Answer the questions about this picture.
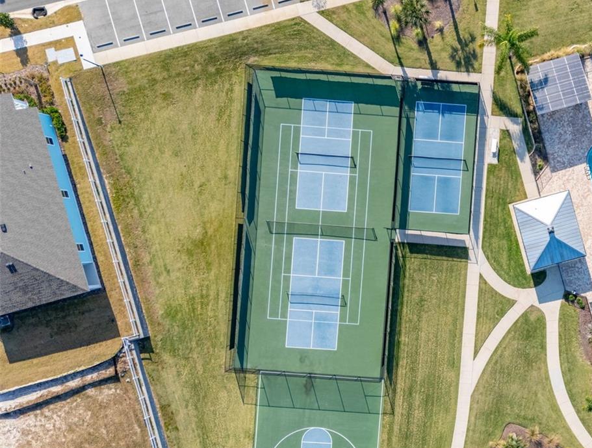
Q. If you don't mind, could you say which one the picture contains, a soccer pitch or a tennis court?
tennis court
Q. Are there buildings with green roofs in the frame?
No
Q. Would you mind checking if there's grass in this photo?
Yes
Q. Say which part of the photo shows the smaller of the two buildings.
right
